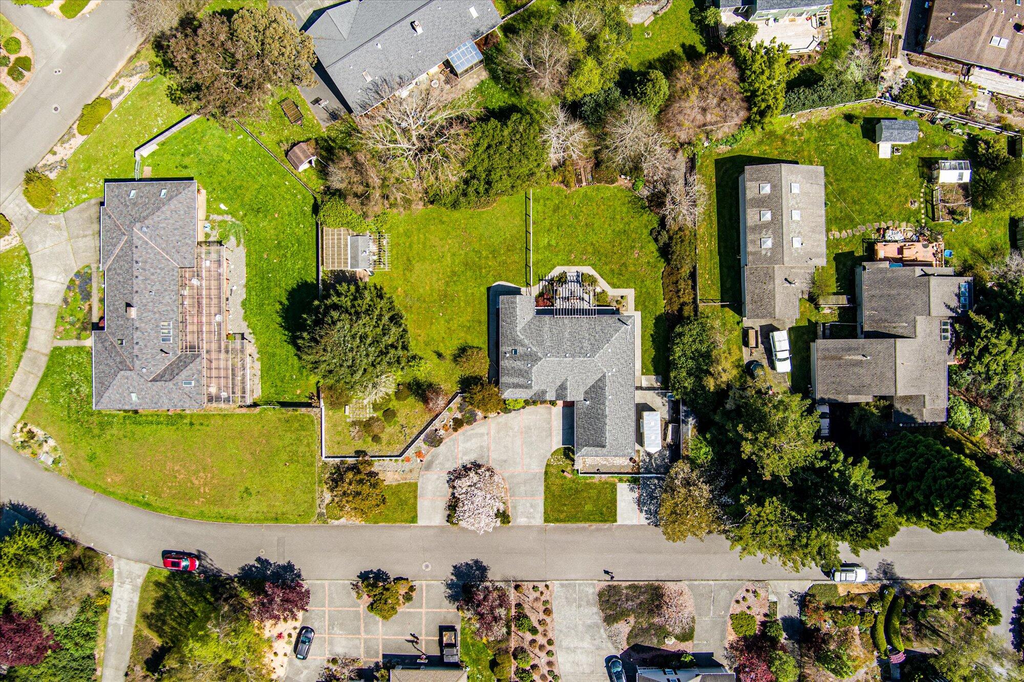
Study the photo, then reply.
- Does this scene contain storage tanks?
No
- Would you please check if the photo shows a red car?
Yes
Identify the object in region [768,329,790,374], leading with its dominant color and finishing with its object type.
white truck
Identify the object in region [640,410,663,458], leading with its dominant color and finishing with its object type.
white trailer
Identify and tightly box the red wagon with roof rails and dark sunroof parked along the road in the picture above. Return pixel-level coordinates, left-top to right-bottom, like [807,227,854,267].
[162,552,201,571]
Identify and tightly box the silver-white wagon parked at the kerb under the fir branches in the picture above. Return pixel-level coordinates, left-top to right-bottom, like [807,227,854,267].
[828,565,864,583]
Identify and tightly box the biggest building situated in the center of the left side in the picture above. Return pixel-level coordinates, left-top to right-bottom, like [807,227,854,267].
[92,178,210,409]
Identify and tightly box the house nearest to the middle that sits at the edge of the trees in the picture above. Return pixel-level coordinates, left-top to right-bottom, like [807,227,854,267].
[499,296,636,457]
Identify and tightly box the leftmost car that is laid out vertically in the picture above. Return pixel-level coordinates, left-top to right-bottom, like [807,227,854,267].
[295,624,315,661]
